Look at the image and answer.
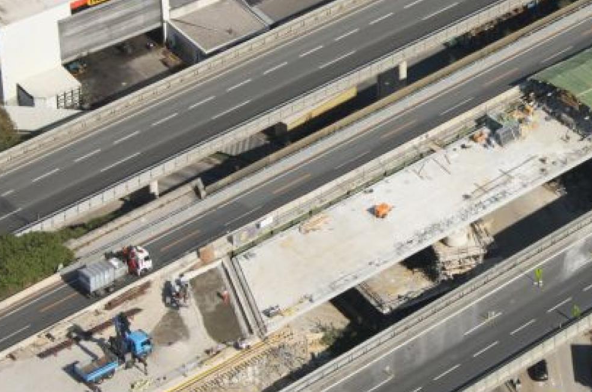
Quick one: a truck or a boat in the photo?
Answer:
truck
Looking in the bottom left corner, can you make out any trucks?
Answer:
Yes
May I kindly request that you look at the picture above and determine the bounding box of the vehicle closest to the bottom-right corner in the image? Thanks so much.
[531,362,550,382]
